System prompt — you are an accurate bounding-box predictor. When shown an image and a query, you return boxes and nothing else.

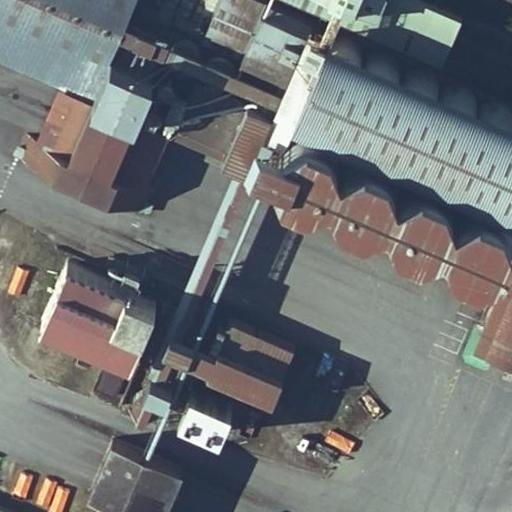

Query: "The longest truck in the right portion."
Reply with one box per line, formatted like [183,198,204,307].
[298,440,342,470]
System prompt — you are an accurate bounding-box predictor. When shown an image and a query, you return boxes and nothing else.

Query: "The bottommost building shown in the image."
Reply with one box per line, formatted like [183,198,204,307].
[82,435,183,512]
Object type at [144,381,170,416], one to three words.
shed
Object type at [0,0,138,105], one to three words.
shed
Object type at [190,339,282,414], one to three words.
building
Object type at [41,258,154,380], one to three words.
building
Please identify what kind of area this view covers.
industrial area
